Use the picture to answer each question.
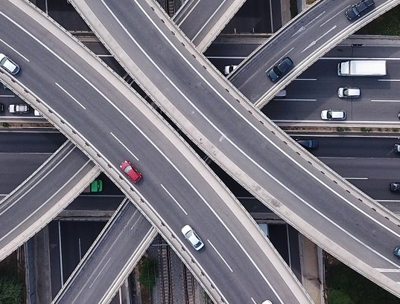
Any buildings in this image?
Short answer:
No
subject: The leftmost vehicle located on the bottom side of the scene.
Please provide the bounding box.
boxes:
[81,178,104,194]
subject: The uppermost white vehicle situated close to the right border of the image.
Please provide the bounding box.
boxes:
[336,61,387,77]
